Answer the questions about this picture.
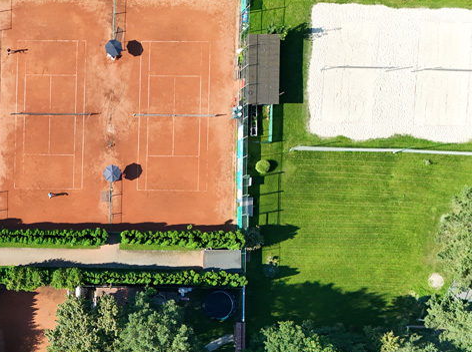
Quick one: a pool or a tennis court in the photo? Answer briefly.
tennis court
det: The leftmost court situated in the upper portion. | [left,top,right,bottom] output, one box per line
[0,0,114,241]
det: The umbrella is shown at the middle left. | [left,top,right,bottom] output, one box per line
[104,166,120,183]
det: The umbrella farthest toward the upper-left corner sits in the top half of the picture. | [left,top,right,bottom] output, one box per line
[105,40,122,58]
